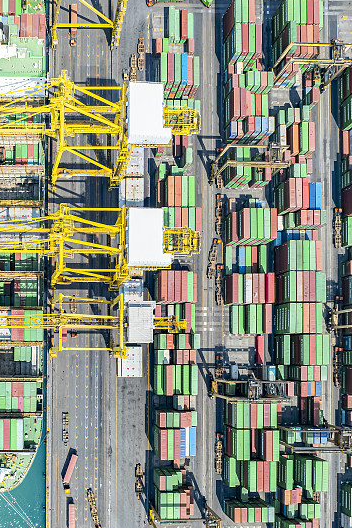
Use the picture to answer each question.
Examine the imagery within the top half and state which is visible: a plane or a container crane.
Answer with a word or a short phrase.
container crane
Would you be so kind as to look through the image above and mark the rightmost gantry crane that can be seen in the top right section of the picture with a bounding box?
[270,39,352,87]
